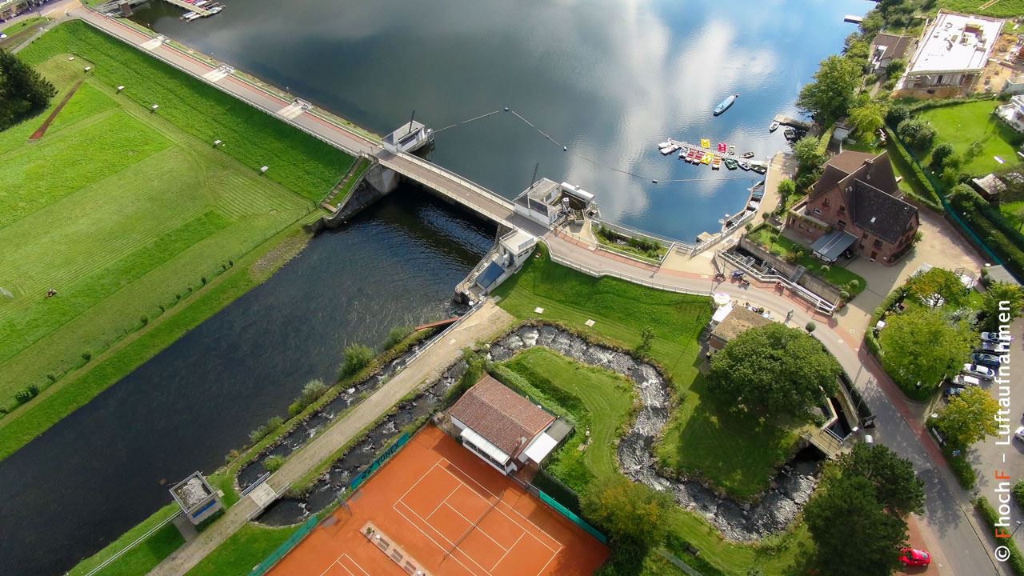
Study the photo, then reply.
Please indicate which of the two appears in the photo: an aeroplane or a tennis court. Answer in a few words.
tennis court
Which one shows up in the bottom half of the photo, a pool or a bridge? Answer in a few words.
bridge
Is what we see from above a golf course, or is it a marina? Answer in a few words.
marina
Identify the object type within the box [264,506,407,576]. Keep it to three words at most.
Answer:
tennis court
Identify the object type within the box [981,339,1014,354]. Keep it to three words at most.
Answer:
car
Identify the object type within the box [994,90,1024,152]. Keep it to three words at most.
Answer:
house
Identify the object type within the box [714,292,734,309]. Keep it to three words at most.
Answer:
umbrella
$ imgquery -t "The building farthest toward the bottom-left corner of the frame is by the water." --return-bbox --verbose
[169,471,222,526]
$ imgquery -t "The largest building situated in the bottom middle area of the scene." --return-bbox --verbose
[448,375,575,471]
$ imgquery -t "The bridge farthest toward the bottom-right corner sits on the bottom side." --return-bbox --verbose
[802,423,845,459]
